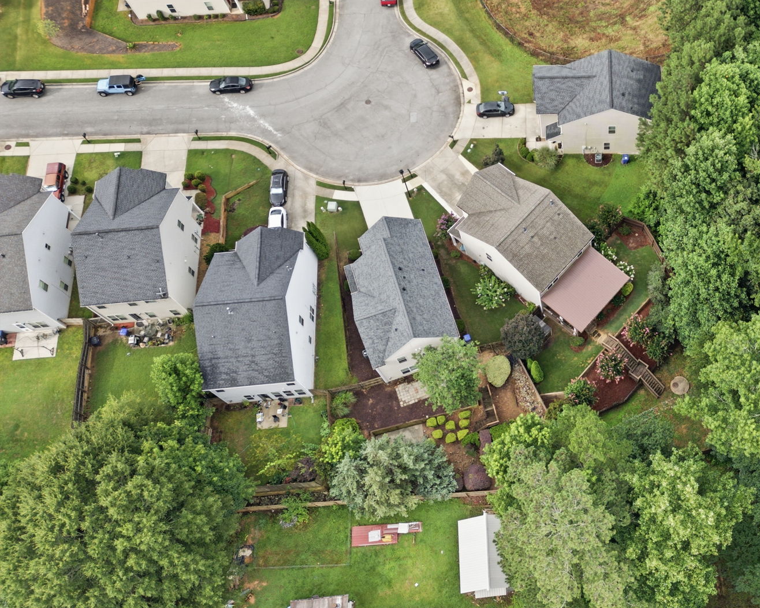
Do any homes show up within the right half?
Yes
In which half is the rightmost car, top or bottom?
top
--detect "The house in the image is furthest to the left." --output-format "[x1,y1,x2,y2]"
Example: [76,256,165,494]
[0,170,83,335]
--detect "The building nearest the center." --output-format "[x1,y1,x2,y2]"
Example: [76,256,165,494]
[343,212,459,384]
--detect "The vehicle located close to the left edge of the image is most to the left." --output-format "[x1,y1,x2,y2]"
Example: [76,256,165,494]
[0,75,43,97]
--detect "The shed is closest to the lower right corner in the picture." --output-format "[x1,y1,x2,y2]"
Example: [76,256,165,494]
[459,510,513,599]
